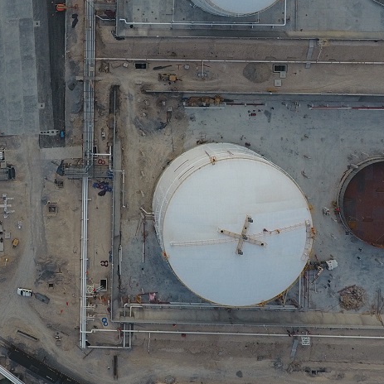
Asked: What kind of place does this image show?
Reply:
industrial area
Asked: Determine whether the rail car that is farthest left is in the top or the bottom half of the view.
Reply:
bottom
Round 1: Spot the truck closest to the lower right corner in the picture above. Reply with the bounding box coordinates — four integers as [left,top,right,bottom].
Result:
[315,259,339,286]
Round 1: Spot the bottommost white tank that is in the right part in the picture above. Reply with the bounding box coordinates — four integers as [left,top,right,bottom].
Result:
[150,142,319,308]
